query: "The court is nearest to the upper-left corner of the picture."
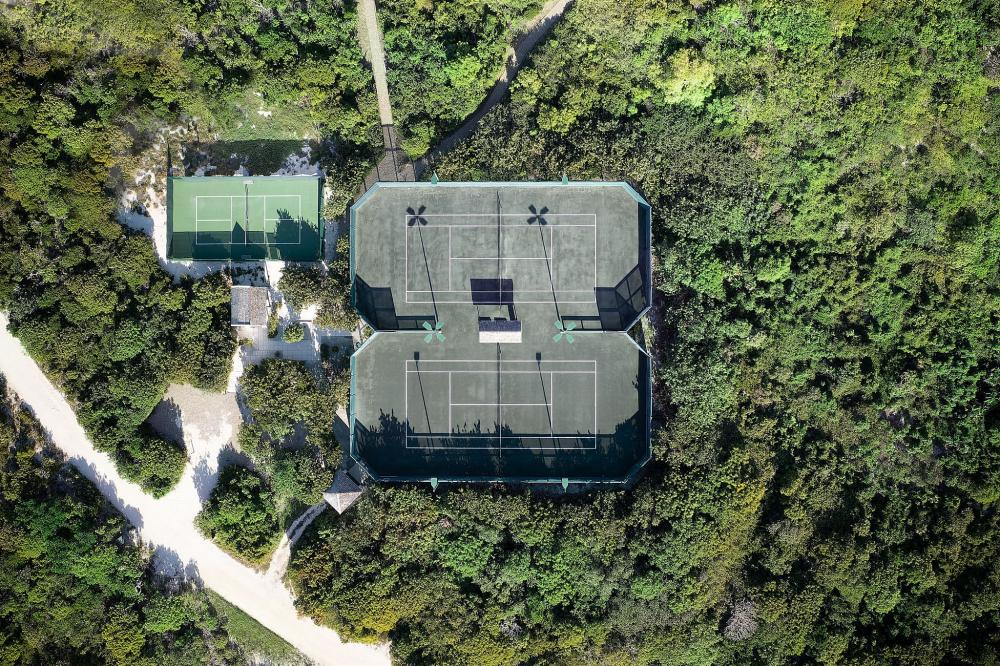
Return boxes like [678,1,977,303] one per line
[175,181,323,262]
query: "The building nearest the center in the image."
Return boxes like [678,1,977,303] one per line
[479,320,522,343]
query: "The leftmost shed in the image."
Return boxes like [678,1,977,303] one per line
[231,285,273,326]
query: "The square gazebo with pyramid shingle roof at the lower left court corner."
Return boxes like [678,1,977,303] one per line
[322,469,364,515]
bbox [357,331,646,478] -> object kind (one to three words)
tennis court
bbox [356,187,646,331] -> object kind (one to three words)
tennis court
